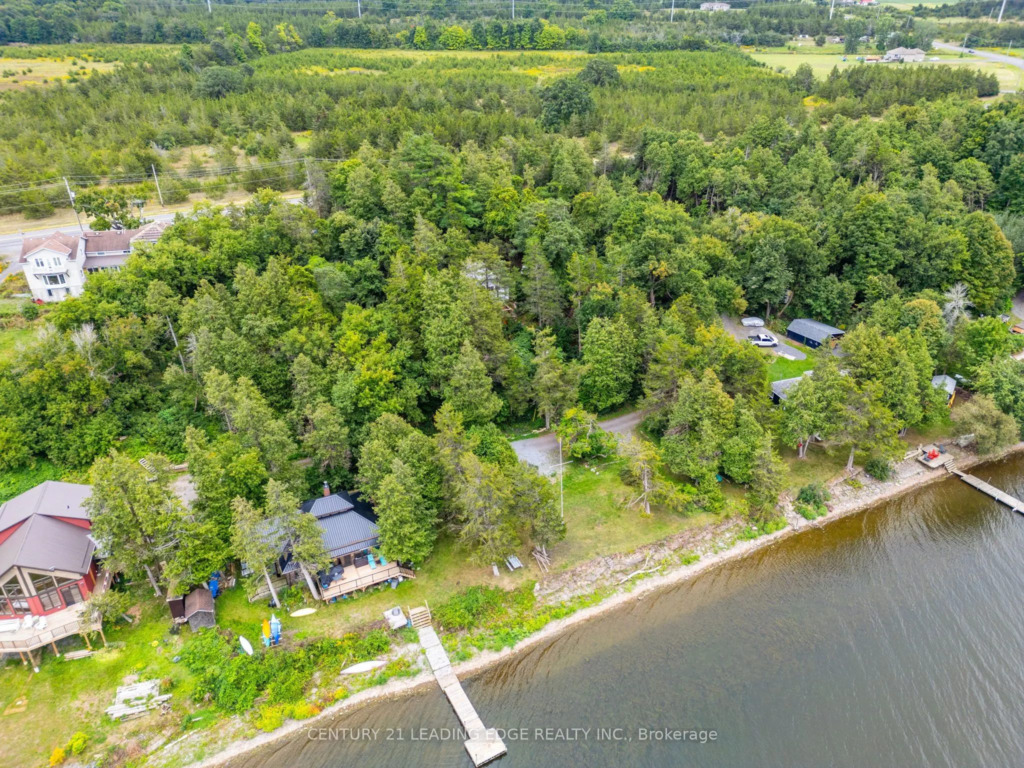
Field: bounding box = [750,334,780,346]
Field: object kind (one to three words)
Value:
vehicle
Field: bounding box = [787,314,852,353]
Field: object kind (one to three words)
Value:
building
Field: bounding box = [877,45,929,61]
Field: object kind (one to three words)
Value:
house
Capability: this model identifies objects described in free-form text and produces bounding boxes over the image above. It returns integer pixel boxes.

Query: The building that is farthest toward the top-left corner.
[19,221,173,302]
